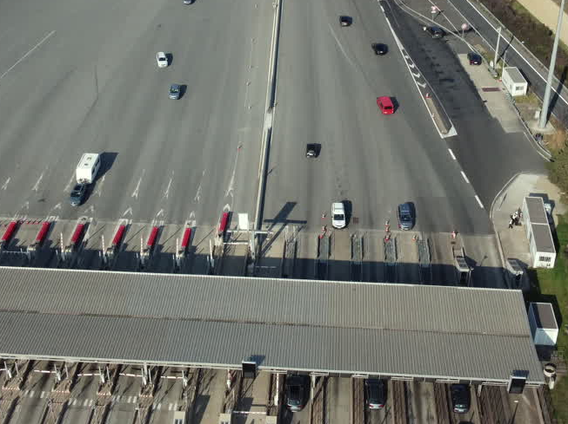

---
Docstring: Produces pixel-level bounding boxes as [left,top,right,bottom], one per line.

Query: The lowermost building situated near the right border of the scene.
[526,295,558,342]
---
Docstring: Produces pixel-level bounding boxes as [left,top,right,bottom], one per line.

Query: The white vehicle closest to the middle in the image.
[330,204,346,228]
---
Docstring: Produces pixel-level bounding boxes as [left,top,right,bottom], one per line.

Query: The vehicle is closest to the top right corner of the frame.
[467,53,481,66]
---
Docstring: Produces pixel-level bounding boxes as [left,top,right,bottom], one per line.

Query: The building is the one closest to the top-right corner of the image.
[502,64,528,94]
